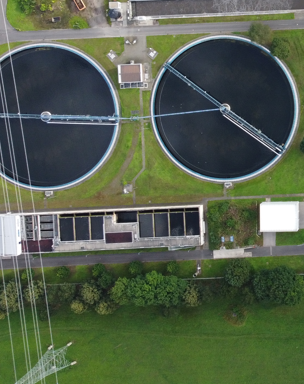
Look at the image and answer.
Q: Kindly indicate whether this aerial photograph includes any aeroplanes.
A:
No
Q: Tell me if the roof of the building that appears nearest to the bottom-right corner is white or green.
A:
white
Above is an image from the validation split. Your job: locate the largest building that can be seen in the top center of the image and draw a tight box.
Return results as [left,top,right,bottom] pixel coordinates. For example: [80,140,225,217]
[118,63,146,84]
